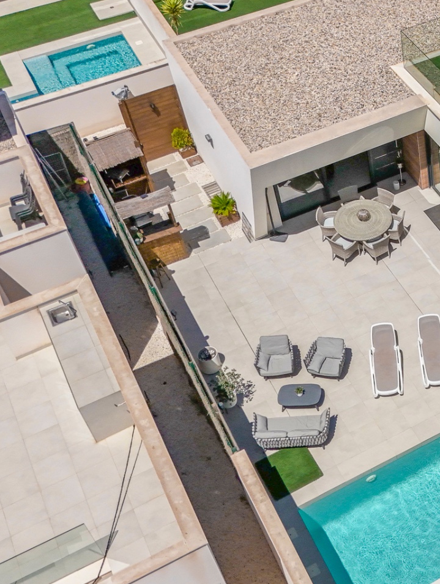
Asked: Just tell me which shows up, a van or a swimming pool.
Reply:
swimming pool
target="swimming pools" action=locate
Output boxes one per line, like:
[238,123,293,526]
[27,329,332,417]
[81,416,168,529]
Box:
[299,436,440,584]
[12,34,139,102]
